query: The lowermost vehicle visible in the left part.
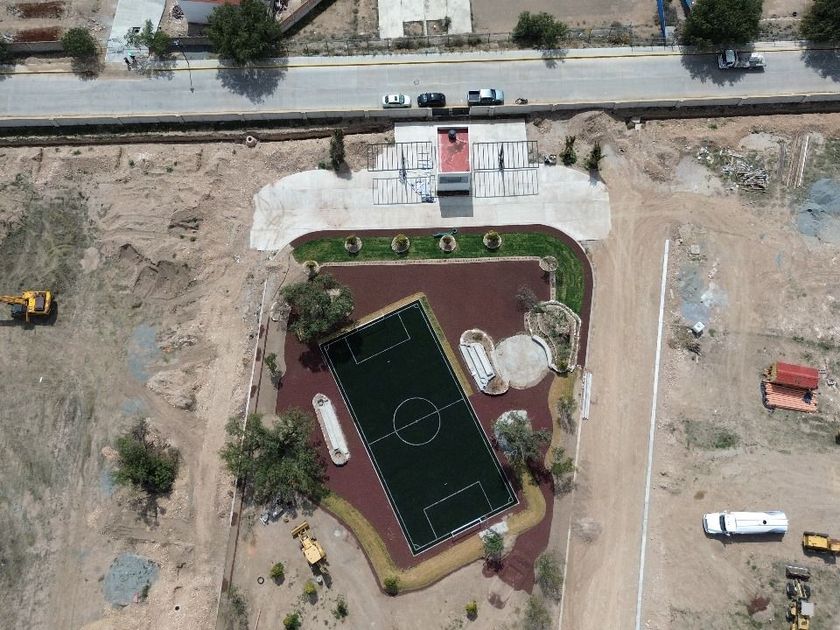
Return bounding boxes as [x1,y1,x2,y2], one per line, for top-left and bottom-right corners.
[293,514,330,570]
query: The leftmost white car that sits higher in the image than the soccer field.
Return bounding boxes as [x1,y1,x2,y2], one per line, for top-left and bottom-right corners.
[382,93,412,108]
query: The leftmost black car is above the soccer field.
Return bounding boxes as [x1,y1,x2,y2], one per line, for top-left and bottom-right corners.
[417,92,445,107]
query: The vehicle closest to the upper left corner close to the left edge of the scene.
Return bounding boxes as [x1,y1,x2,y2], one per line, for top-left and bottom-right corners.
[0,290,61,314]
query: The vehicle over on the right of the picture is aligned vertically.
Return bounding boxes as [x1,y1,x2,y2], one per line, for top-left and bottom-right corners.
[780,564,817,630]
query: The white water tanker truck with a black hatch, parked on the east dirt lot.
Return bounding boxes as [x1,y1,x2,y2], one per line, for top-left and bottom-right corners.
[696,509,789,535]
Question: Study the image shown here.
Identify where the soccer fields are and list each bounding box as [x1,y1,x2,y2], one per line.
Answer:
[319,299,518,556]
